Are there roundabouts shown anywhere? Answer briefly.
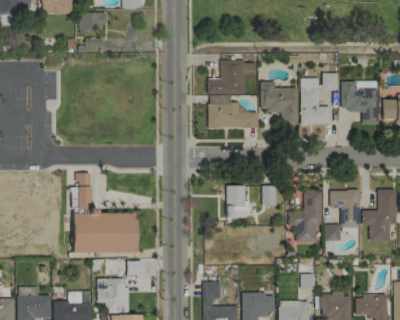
No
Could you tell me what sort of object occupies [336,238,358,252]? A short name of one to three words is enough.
swimming pool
